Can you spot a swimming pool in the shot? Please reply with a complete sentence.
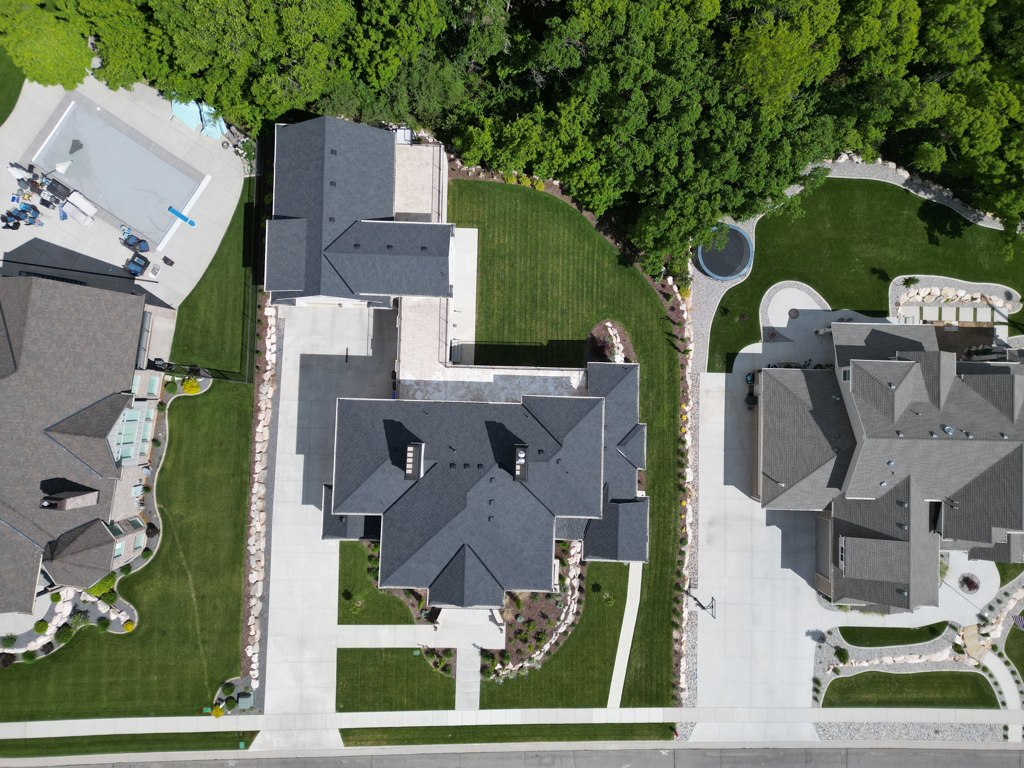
Yes, the frame does contain a swimming pool.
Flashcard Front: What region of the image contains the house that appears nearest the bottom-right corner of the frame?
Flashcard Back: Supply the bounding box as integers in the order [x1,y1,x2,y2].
[754,322,1024,616]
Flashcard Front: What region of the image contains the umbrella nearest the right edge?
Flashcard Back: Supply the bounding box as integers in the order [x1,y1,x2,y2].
[48,159,72,180]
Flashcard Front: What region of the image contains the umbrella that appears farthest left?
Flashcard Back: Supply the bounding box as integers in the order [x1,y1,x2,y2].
[5,166,28,183]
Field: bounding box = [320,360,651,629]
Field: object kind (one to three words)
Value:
house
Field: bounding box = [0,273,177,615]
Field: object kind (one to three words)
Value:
house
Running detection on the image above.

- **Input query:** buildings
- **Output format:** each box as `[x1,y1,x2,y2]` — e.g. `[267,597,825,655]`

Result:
[754,322,1024,616]
[320,360,651,629]
[263,115,457,311]
[0,273,177,615]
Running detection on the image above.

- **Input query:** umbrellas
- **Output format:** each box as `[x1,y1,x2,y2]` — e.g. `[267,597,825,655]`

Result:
[48,159,72,180]
[5,166,28,183]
